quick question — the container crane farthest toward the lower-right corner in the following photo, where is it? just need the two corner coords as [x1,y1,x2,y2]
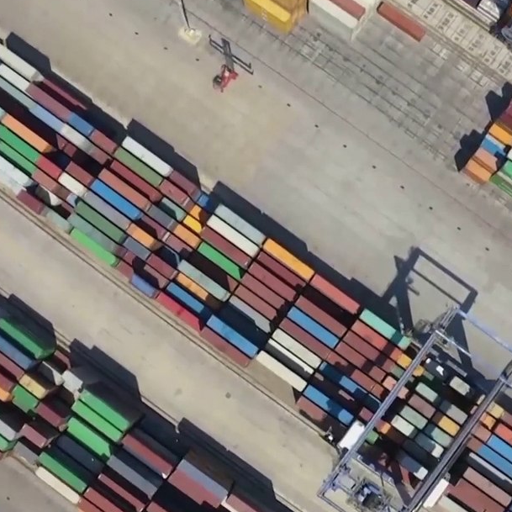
[319,306,512,512]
